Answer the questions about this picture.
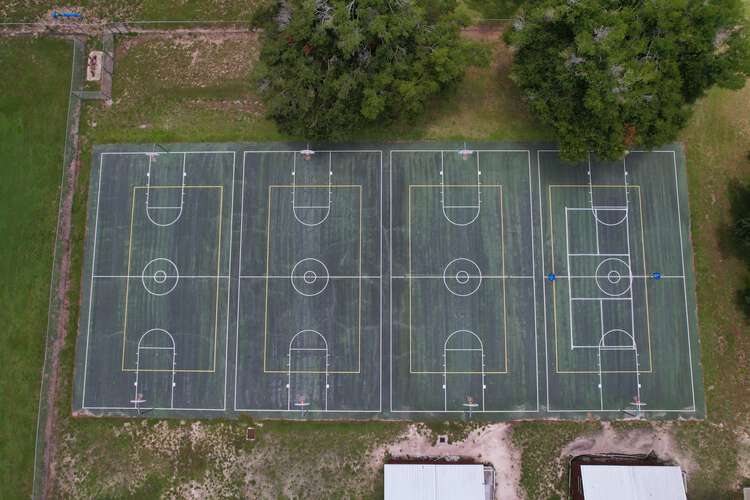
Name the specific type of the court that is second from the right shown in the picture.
basketball court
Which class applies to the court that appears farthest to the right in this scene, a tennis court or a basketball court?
basketball court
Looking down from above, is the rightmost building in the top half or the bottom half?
bottom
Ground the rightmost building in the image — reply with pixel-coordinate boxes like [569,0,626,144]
[567,453,683,500]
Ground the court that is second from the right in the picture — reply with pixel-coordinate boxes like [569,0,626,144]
[387,149,543,414]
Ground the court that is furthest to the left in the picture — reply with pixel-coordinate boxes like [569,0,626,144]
[77,150,240,411]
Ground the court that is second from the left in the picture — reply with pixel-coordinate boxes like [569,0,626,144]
[231,149,385,412]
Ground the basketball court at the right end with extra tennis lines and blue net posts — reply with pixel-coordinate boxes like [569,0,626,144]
[532,149,700,414]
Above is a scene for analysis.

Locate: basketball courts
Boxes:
[231,149,385,412]
[532,149,700,414]
[77,150,240,411]
[387,149,543,414]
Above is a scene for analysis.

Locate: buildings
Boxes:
[385,456,494,500]
[567,453,683,500]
